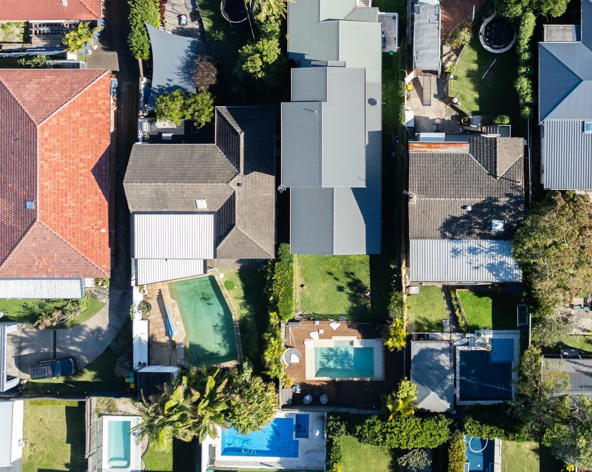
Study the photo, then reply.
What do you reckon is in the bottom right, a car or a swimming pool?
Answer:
swimming pool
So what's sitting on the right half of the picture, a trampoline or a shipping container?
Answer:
trampoline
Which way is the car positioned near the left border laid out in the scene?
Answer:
from side to side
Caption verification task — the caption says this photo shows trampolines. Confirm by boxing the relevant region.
[216,0,256,26]
[479,17,516,54]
